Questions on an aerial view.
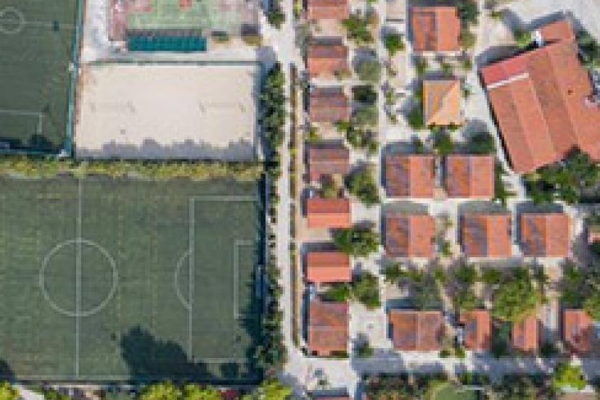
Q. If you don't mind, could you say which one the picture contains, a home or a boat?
home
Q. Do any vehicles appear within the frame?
No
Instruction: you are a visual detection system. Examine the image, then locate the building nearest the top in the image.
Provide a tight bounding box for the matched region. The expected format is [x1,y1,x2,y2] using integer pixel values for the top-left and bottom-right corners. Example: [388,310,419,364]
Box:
[306,0,349,19]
